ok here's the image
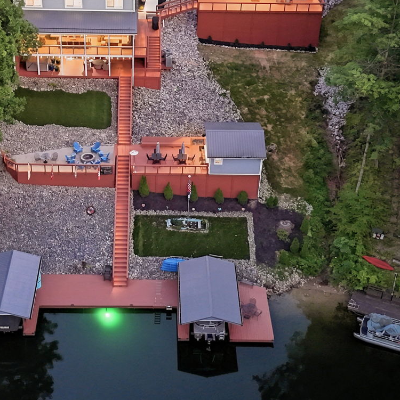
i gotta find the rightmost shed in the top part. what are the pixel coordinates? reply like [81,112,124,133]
[204,123,267,197]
